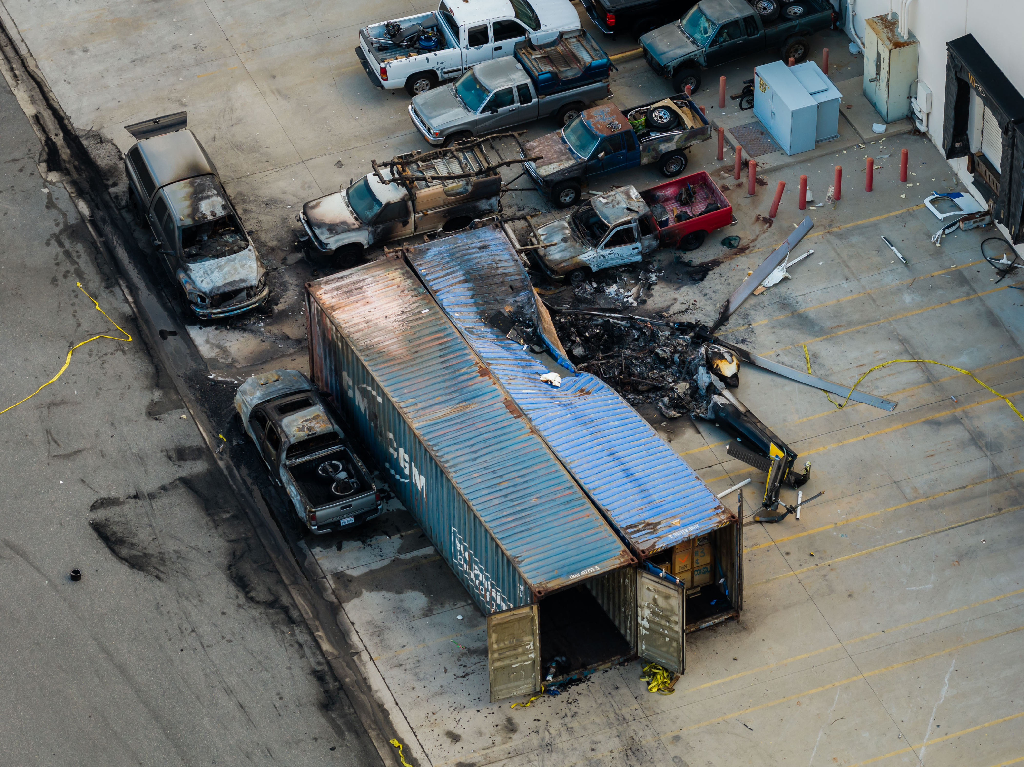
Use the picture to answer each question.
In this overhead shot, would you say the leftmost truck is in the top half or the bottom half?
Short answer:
top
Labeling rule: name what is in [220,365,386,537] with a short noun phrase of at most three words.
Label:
truck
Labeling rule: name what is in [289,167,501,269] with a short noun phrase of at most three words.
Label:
truck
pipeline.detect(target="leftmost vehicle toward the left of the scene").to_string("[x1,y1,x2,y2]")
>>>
[128,98,271,313]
